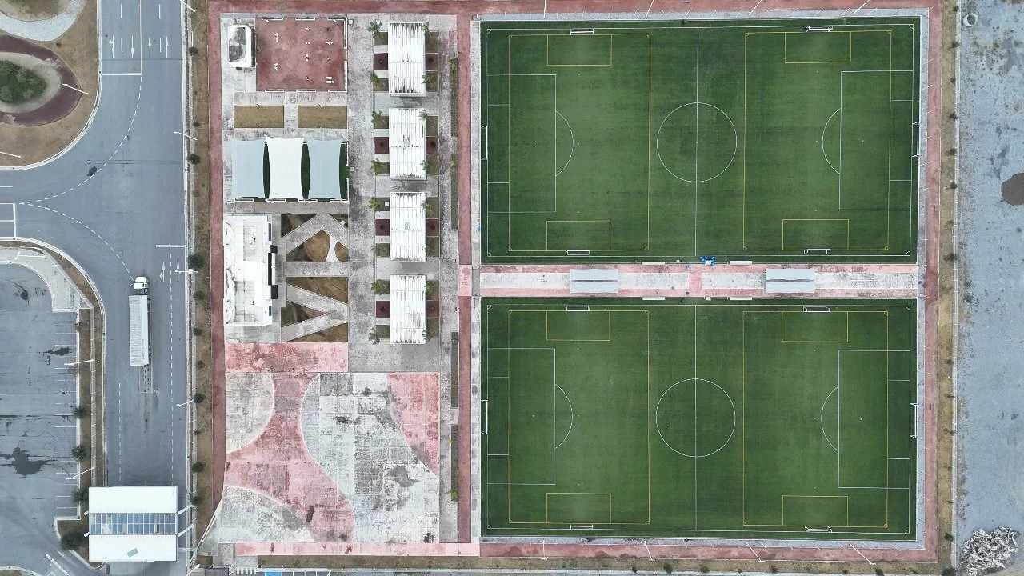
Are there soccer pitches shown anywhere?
Yes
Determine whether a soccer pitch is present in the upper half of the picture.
Yes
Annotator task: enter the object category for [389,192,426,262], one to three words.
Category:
building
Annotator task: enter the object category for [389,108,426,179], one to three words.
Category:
building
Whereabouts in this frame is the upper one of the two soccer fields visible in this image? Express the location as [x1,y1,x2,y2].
[480,14,922,265]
